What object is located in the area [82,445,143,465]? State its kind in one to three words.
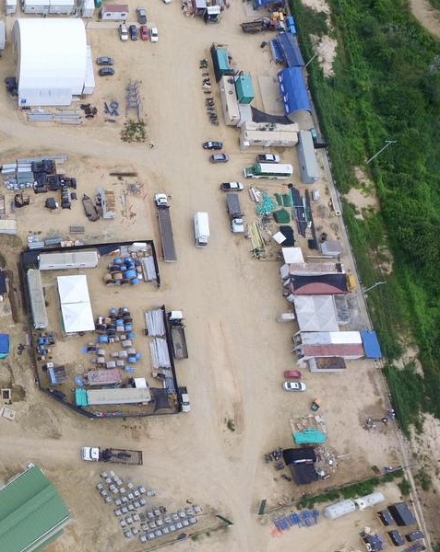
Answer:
vehicle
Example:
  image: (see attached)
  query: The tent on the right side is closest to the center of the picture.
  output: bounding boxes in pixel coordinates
[279,247,304,268]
